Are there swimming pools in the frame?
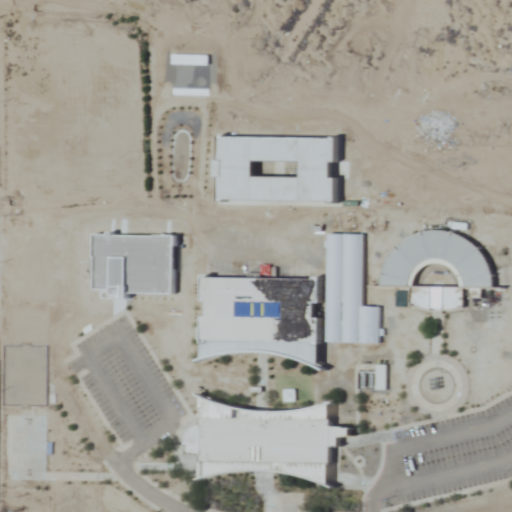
No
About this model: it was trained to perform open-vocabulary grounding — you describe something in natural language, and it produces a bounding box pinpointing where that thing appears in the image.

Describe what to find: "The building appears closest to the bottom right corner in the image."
[356,364,389,392]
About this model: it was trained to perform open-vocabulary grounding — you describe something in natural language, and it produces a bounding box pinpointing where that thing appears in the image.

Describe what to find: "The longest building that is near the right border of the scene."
[380,230,495,286]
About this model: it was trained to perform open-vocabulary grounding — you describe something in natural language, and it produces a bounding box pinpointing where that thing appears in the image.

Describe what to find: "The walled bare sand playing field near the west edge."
[5,344,48,405]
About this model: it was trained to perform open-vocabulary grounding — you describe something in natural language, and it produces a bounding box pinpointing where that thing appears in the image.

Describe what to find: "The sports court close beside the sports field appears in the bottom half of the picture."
[8,415,46,480]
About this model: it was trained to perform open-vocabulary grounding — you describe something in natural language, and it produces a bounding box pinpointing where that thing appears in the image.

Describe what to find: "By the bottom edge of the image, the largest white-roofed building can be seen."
[193,394,350,488]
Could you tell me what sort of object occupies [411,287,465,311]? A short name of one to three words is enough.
building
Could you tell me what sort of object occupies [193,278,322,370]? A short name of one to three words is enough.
building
